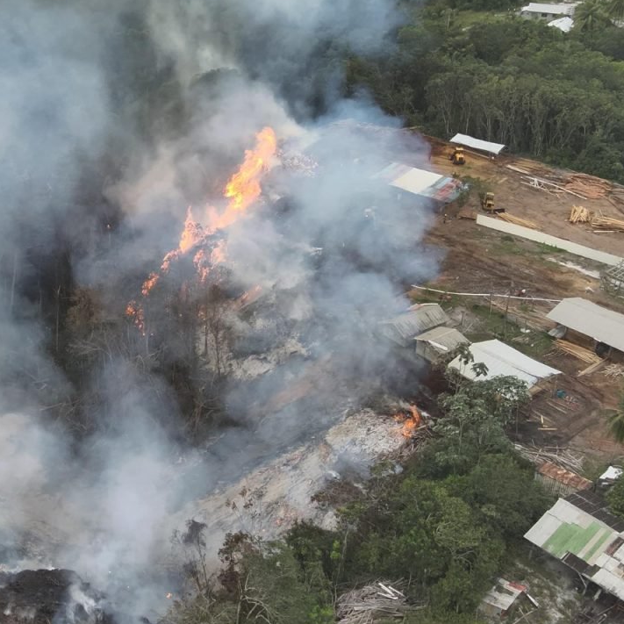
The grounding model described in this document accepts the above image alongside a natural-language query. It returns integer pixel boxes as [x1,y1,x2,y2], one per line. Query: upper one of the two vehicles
[449,146,472,164]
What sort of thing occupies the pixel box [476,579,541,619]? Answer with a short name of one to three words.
shed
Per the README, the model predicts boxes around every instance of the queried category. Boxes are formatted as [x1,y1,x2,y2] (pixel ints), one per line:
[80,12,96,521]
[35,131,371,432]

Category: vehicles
[479,192,503,217]
[449,146,472,164]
